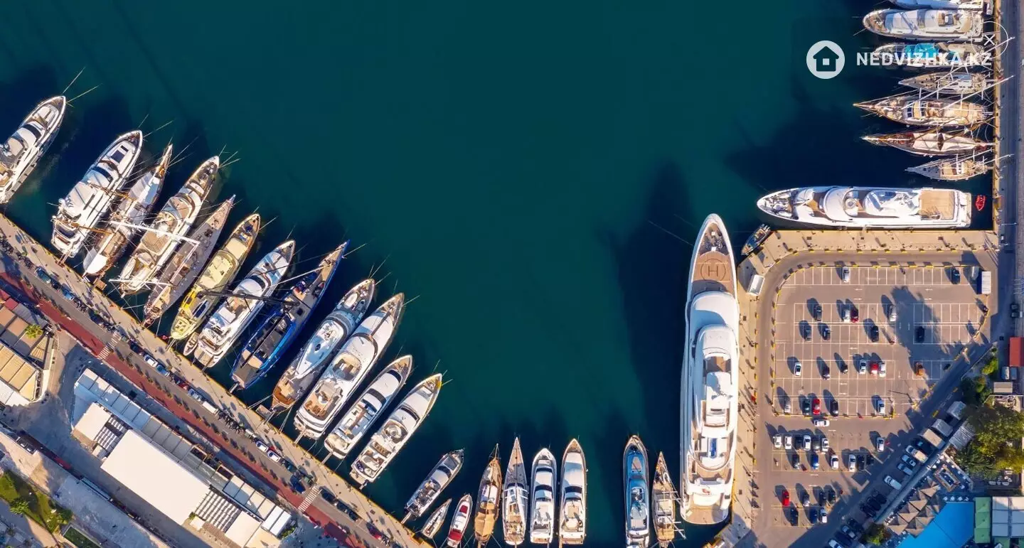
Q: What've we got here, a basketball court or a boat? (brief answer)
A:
boat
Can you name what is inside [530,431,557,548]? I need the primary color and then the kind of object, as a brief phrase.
white boat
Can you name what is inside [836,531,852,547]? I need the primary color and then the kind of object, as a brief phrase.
black car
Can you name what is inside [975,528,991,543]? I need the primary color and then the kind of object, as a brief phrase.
green umbrella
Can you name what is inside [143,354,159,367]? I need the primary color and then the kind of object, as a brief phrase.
white vehicle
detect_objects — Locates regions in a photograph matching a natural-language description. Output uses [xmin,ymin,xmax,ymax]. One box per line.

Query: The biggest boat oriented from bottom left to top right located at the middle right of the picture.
[742,222,773,254]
